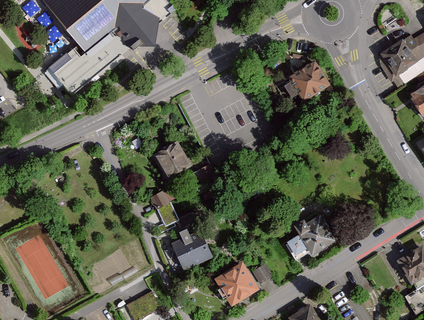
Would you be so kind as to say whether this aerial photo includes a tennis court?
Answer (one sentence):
Yes, the picture does show a tennis court.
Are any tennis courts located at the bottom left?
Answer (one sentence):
Yes, a tennis court shows up at the bottom left.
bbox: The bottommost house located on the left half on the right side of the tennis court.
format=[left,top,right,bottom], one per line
[127,292,158,320]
